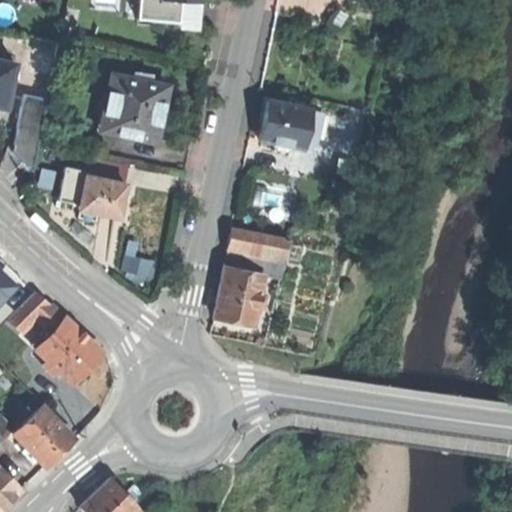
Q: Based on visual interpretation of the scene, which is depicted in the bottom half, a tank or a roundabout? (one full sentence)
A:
You can see a roundabout in the bottom half.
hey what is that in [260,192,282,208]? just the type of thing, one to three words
swimming pool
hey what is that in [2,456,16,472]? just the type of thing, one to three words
car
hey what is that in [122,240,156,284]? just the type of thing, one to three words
shed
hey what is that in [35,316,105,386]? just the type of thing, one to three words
house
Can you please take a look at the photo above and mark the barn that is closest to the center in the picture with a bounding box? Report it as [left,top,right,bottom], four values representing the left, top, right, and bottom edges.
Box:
[227,228,292,264]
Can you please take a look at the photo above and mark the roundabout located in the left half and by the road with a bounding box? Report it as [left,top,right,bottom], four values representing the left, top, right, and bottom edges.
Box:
[122,357,230,466]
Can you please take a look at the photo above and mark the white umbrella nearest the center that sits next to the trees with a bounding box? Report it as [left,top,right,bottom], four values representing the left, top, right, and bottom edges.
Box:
[268,208,284,224]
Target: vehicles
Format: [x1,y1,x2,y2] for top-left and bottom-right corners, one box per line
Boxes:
[206,114,216,134]
[8,289,25,306]
[2,456,16,472]
[184,214,194,232]
[30,212,49,232]
[134,144,154,154]
[126,2,134,20]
